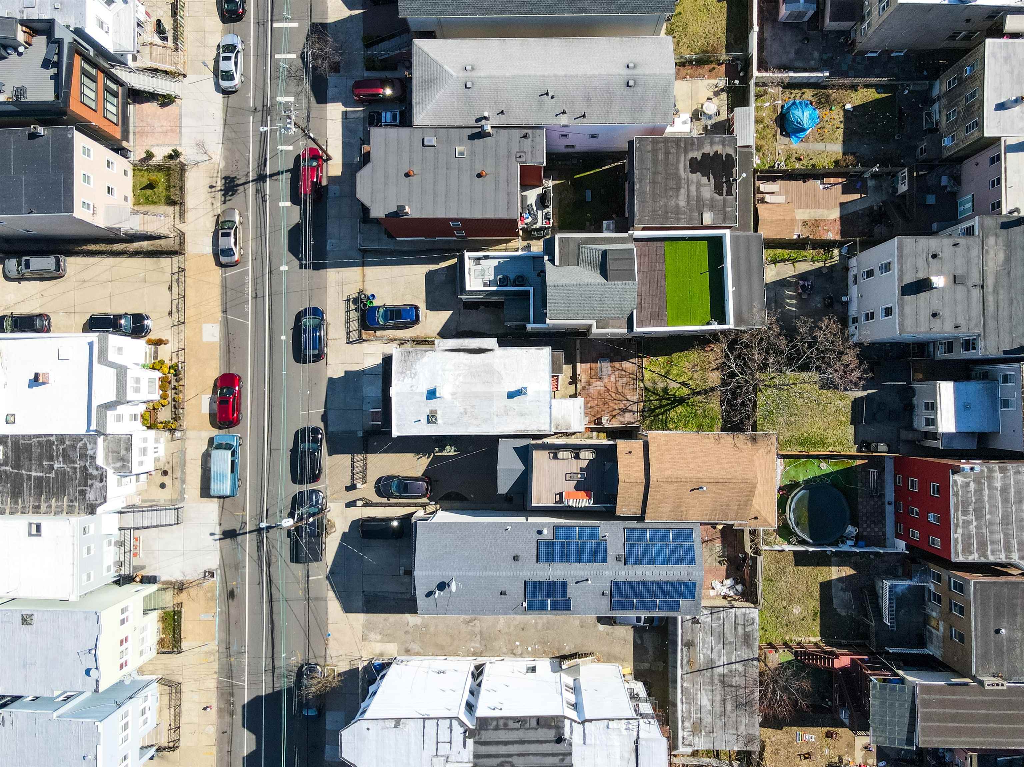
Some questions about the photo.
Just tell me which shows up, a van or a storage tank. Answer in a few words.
van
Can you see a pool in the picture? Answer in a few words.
Yes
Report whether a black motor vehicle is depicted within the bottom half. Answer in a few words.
Yes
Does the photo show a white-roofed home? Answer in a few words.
Yes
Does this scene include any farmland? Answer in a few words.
No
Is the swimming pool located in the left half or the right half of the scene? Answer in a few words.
right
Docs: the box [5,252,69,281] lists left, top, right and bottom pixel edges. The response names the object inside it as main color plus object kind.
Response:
gray car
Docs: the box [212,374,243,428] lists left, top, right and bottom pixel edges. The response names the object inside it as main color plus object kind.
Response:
red car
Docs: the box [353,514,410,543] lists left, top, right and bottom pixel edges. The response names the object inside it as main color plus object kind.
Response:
black car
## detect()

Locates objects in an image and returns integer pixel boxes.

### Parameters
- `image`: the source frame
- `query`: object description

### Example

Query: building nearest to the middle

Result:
[380,340,584,436]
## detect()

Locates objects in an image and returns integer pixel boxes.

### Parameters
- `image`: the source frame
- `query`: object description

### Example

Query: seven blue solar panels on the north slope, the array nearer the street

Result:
[538,527,607,564]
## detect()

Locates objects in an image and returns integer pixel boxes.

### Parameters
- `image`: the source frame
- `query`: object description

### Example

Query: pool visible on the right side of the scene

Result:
[780,479,850,545]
